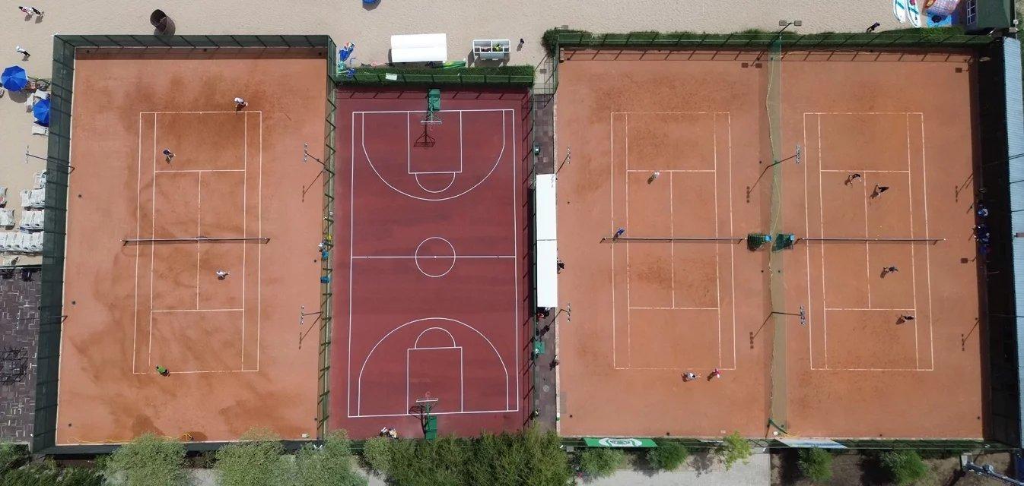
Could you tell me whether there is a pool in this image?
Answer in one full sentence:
No, there isn't any pool down there.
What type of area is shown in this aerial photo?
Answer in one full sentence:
This image shows a sports ground.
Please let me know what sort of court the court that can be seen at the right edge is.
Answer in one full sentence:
It turns out the court that can be seen at the right edge is a tennis court.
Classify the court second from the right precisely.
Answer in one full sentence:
What you see as the court second from the right is a tennis court.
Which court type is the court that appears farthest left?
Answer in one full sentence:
The court that appears farthest left appears to be a tennis court.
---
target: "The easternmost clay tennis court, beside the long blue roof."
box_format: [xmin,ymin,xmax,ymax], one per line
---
[769,47,992,441]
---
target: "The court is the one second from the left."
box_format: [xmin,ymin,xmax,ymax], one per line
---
[329,85,533,440]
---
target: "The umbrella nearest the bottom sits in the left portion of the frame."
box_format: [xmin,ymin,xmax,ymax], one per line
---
[34,102,49,123]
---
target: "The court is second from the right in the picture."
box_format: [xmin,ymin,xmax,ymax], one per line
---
[554,46,770,439]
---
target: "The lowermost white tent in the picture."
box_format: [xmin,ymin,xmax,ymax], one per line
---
[391,33,447,65]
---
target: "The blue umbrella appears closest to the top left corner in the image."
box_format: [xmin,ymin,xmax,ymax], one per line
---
[3,66,30,91]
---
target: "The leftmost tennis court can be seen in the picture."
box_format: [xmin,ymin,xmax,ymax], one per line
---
[55,45,331,446]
